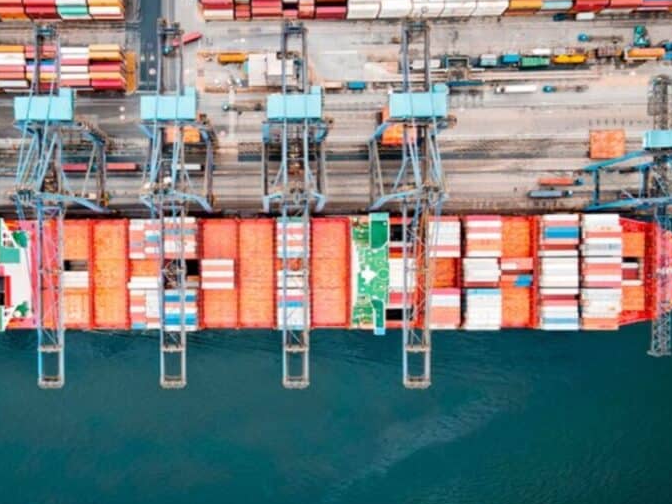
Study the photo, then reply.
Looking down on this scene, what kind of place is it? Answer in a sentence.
The area seen from above is a port.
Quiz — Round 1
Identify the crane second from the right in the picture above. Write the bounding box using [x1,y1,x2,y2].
[360,16,454,389]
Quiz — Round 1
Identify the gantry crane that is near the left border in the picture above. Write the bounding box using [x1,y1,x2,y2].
[13,19,113,389]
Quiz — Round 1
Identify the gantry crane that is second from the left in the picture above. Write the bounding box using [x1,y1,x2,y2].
[138,16,221,389]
